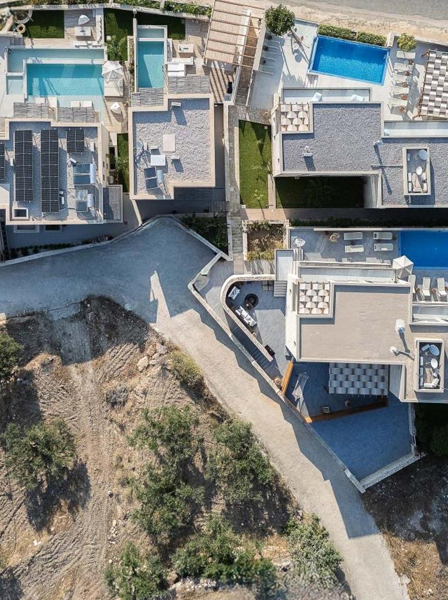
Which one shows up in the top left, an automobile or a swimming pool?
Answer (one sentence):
You can see a swimming pool in the top left.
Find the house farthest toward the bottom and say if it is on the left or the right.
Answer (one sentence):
The house farthest toward the bottom sits on the right side.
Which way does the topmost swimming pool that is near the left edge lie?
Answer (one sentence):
The topmost swimming pool that is near the left edge runs from left to right in the image.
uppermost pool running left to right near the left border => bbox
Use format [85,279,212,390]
[6,48,106,75]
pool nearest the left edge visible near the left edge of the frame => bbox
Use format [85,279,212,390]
[6,76,25,95]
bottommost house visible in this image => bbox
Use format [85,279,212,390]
[239,249,448,402]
